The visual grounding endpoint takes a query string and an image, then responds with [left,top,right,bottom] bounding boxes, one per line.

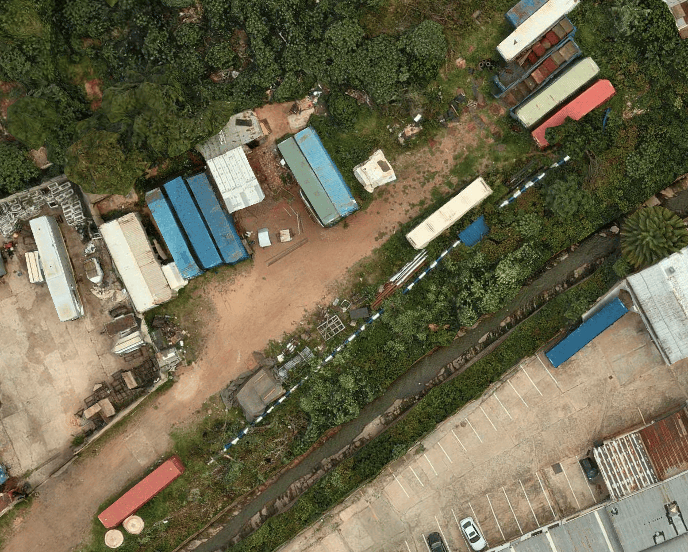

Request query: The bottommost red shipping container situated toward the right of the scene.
[533,79,616,149]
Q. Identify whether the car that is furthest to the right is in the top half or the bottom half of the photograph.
bottom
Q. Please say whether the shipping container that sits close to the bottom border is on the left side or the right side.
left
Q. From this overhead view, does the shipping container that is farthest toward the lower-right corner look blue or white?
blue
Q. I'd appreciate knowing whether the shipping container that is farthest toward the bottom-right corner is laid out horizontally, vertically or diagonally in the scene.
diagonally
